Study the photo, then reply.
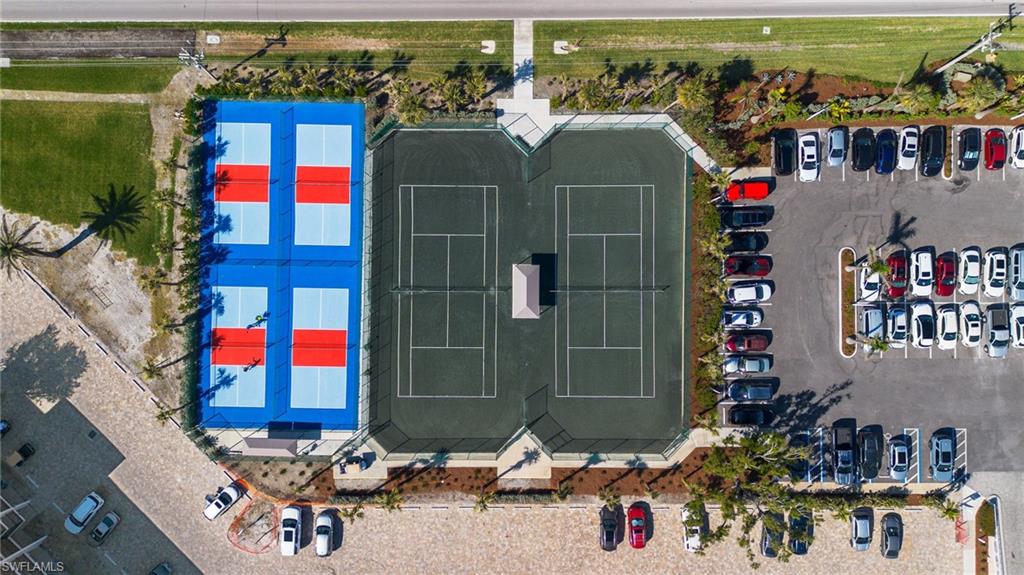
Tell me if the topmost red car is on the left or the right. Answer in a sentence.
The topmost red car sits on the right side.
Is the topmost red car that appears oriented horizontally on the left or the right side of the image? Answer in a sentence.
You can find the topmost red car that appears oriented horizontally on the right side of the picture.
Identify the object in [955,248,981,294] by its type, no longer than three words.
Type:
car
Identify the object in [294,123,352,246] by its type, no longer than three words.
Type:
sports court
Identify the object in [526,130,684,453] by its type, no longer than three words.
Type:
tennis court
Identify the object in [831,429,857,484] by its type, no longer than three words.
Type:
truck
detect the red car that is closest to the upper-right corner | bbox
[981,129,1006,171]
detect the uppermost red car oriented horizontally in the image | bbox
[724,180,770,201]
